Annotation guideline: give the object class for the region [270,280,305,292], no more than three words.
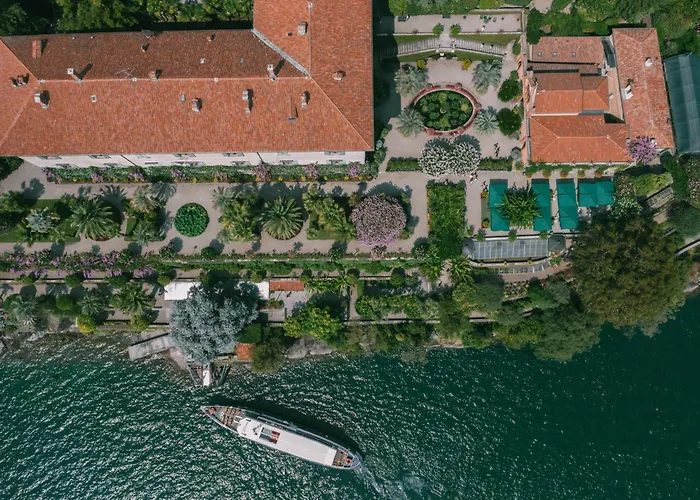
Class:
shed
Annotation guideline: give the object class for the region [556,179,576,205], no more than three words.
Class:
umbrella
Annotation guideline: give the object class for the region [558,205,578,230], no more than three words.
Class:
umbrella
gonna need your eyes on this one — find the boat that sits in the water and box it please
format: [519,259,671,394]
[199,405,364,475]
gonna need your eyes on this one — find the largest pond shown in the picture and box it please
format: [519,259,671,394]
[415,84,479,135]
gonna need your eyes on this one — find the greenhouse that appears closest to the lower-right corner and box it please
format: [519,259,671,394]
[468,239,550,263]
